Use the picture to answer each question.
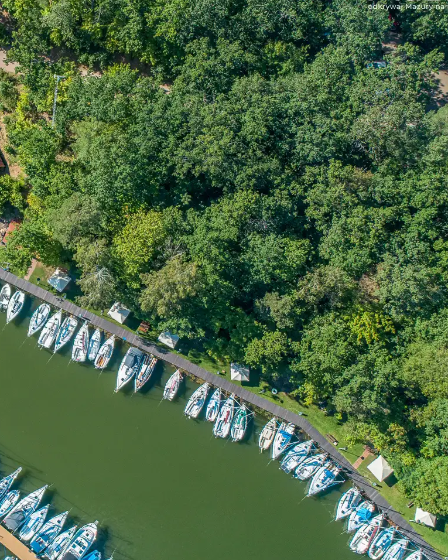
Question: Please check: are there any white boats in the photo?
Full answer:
Yes, a white boat is visible in the scene.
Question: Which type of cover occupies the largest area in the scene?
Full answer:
The largest share of the image is taken up by trees.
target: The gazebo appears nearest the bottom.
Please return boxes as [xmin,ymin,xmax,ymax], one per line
[411,505,436,529]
